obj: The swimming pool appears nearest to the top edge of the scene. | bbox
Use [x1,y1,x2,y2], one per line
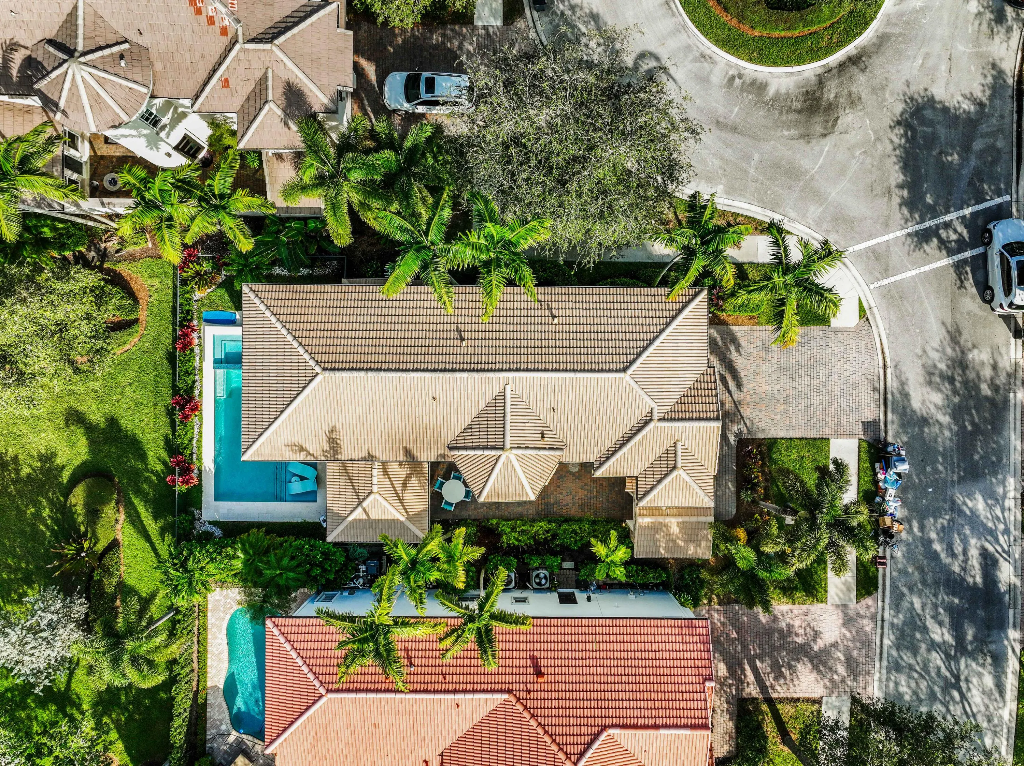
[213,335,317,502]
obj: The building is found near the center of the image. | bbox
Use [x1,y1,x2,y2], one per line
[239,277,722,562]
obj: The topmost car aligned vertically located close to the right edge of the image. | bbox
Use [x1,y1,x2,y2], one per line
[988,223,1024,310]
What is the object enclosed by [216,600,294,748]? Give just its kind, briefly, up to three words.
swimming pool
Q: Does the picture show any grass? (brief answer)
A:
Yes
